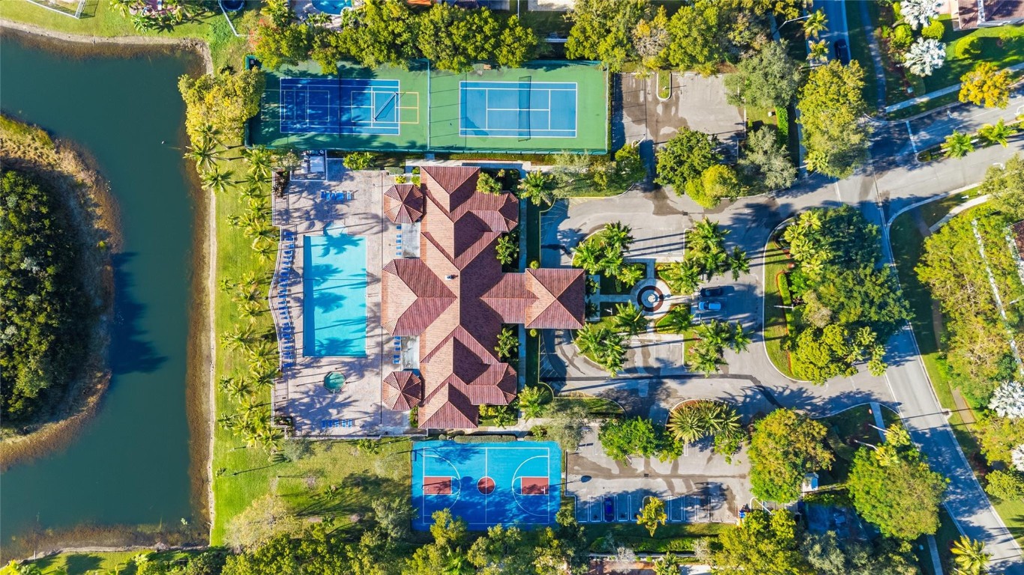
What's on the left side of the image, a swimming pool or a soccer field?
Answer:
swimming pool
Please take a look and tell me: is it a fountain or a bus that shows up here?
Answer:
fountain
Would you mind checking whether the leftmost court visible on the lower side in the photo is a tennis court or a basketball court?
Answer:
basketball court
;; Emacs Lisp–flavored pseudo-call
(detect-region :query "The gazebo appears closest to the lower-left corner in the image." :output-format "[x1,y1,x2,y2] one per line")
[383,371,419,411]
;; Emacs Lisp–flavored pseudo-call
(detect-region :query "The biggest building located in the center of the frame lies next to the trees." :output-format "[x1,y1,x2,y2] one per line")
[381,166,585,428]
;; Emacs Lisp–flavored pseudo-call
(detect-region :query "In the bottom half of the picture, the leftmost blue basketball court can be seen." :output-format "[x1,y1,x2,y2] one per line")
[412,441,561,531]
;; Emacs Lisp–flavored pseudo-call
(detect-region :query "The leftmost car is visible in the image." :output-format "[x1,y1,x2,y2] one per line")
[604,498,616,523]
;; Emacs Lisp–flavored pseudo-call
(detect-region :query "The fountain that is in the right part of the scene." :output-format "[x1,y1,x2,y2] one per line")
[637,284,664,311]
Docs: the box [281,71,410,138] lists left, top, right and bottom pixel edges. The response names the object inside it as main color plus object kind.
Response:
blue tennis court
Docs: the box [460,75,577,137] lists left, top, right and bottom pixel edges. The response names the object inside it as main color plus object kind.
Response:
blue tennis court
